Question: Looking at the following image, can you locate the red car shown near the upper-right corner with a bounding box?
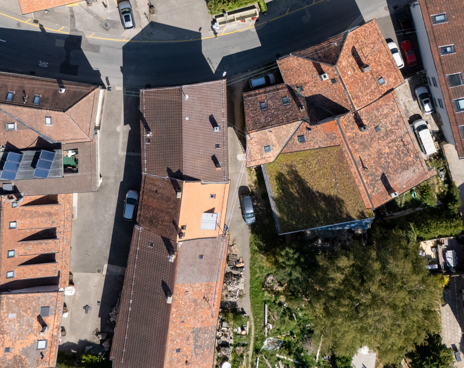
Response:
[400,41,420,74]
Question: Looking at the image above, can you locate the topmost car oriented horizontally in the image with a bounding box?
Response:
[248,73,277,90]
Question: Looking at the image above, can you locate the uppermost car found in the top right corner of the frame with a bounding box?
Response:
[392,3,409,34]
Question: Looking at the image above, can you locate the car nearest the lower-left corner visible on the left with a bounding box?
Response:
[122,188,140,223]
